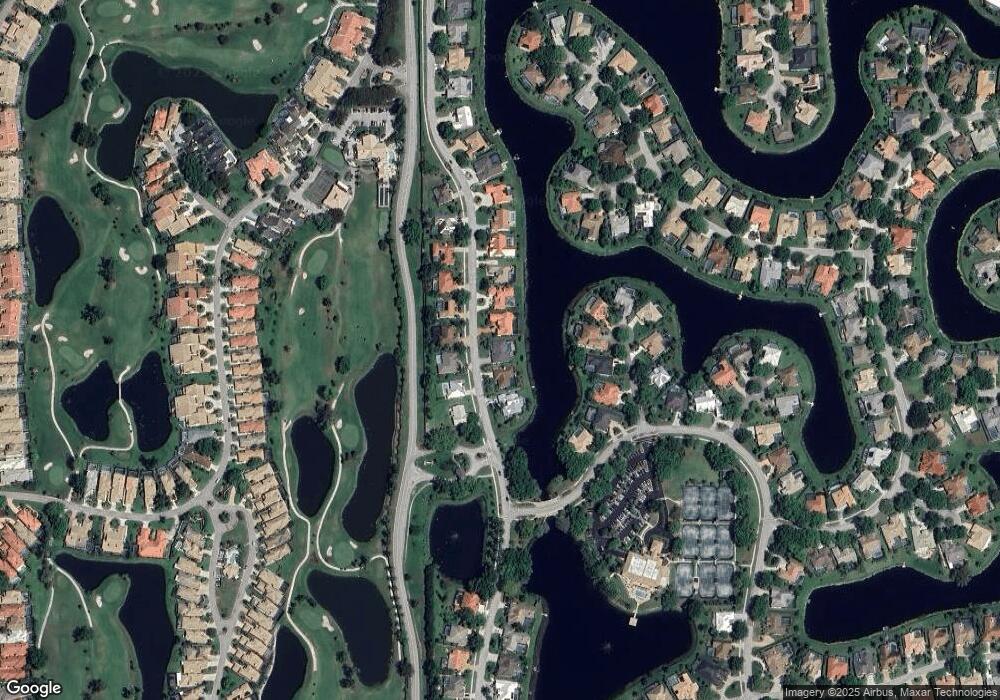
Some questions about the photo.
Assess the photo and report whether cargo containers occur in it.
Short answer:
No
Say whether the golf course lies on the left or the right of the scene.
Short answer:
left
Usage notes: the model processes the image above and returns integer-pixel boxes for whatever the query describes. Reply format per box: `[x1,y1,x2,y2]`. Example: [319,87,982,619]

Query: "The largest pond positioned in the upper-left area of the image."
[97,51,278,181]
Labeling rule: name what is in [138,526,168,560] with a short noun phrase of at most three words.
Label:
house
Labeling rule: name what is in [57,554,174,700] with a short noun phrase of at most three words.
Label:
pond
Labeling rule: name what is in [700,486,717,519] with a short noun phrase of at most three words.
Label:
tennis court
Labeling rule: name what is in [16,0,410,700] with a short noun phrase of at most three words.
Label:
golf course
